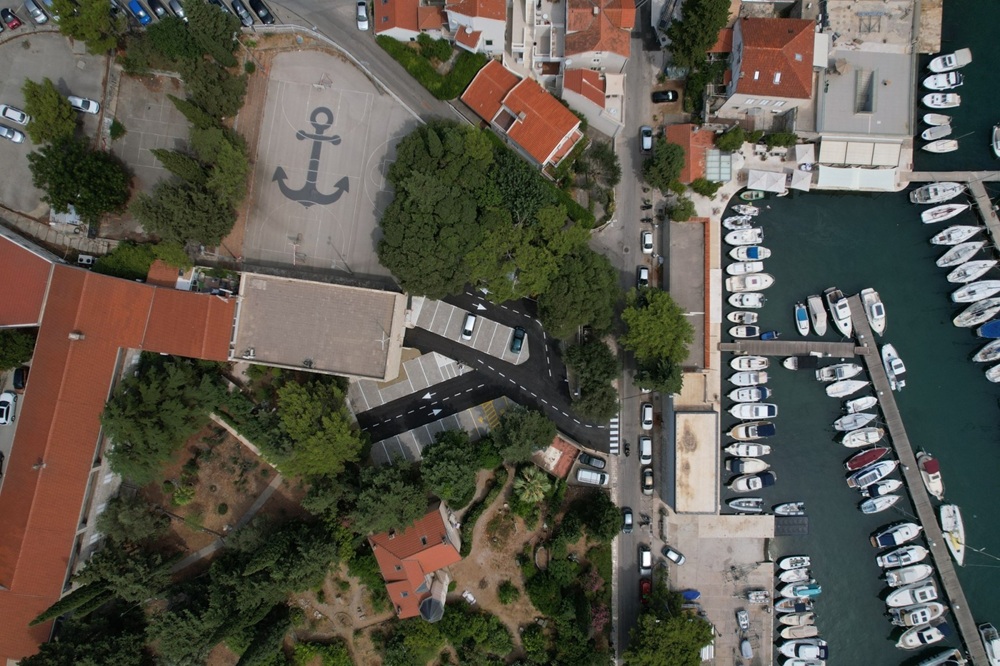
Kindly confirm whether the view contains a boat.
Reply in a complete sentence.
Yes, looking at the shot, I can spot a boat.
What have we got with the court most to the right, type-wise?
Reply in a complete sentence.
The court most to the right is a basketball court.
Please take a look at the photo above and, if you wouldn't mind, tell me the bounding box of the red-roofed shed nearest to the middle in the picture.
[532,433,579,478]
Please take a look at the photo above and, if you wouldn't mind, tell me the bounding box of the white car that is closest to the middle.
[461,312,478,341]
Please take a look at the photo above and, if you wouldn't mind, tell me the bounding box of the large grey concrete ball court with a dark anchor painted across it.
[243,49,422,296]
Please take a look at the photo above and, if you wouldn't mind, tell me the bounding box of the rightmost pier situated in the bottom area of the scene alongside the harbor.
[847,293,987,666]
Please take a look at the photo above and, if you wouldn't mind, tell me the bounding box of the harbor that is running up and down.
[661,134,914,666]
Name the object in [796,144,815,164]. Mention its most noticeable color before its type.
white umbrella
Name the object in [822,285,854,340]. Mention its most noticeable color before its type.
white boat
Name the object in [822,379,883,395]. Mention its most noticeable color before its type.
white boat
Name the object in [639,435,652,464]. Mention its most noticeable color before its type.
white vehicle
